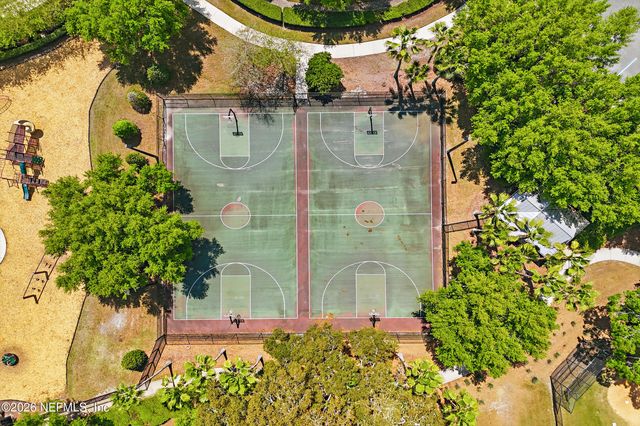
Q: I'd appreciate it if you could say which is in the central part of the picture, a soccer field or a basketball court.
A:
basketball court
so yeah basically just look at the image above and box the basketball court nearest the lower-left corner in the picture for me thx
[173,112,298,320]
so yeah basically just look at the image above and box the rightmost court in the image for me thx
[308,112,434,319]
